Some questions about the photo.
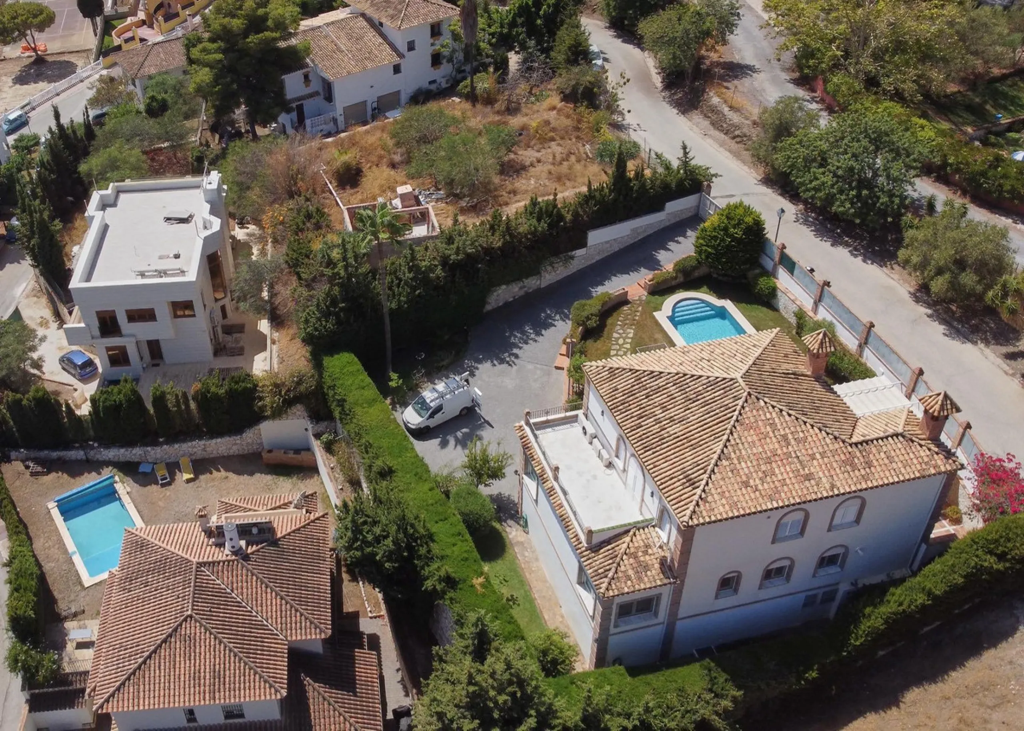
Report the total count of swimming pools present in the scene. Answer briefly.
2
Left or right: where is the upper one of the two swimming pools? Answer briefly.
right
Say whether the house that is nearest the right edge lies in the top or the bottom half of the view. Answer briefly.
bottom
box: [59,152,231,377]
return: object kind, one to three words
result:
house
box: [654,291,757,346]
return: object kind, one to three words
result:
swimming pool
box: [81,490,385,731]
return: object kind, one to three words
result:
house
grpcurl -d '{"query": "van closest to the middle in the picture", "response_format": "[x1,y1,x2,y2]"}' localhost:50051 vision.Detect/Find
[396,363,490,432]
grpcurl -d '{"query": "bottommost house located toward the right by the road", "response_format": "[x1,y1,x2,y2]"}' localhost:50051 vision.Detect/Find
[515,328,965,669]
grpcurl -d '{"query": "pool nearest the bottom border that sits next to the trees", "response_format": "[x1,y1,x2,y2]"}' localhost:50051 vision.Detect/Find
[47,475,144,587]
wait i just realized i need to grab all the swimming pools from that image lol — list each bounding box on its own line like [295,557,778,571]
[47,475,144,587]
[654,291,757,346]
